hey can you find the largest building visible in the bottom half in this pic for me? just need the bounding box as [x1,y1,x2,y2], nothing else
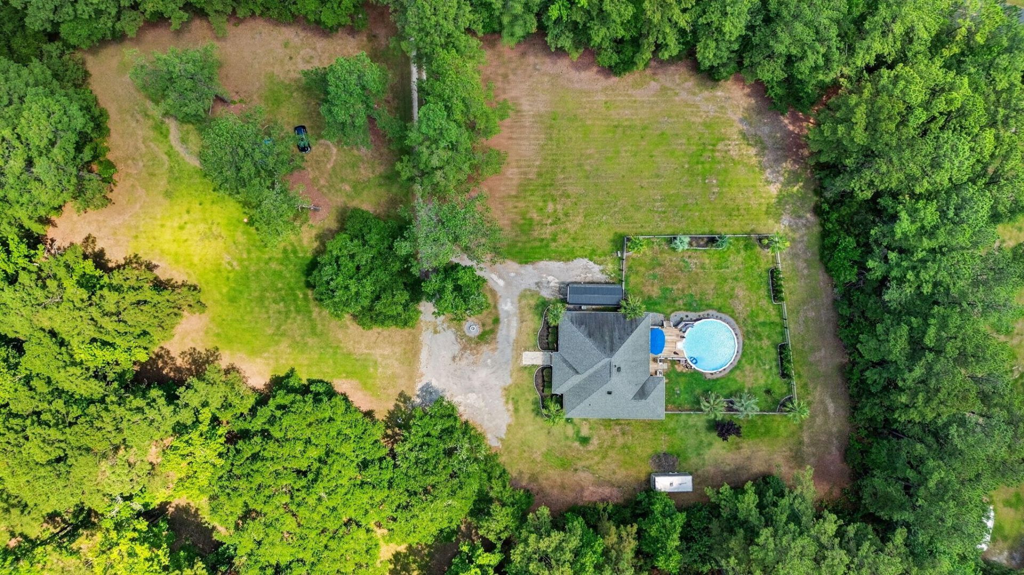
[552,311,665,419]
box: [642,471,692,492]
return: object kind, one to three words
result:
trailer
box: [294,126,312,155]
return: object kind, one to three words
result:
car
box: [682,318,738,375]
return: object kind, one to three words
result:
swimming pool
